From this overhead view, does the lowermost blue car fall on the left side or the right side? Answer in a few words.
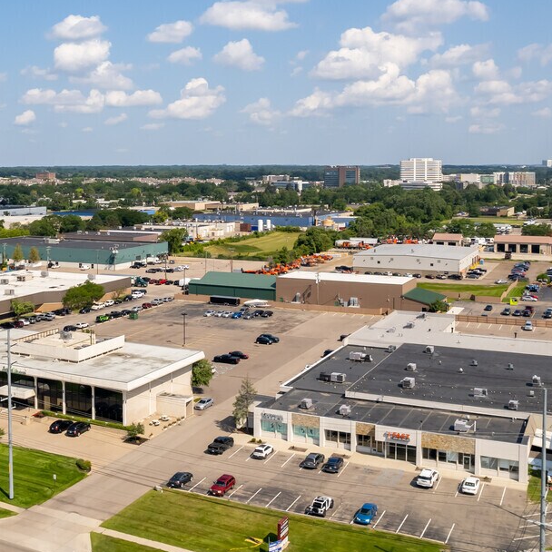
right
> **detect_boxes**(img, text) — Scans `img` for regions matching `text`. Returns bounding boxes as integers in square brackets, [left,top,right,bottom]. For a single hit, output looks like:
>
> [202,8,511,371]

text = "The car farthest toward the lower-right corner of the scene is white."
[461,478,480,496]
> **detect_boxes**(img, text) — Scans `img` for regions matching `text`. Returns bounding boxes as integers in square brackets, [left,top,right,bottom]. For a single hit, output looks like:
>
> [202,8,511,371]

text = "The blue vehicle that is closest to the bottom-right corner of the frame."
[354,503,378,524]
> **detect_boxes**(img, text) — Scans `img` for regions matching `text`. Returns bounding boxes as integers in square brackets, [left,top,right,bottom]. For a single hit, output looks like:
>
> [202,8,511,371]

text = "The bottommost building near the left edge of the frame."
[0,327,206,425]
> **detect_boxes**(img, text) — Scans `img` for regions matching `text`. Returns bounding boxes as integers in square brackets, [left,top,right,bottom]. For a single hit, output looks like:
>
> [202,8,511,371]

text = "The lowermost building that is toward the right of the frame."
[259,309,552,480]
